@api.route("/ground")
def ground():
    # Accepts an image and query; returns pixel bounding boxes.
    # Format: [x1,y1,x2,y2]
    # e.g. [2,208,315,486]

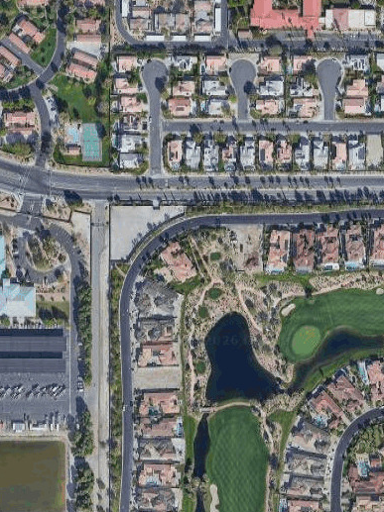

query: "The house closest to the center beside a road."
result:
[160,241,198,279]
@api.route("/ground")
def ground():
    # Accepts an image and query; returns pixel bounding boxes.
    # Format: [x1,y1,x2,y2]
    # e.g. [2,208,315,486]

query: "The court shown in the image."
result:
[82,122,101,161]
